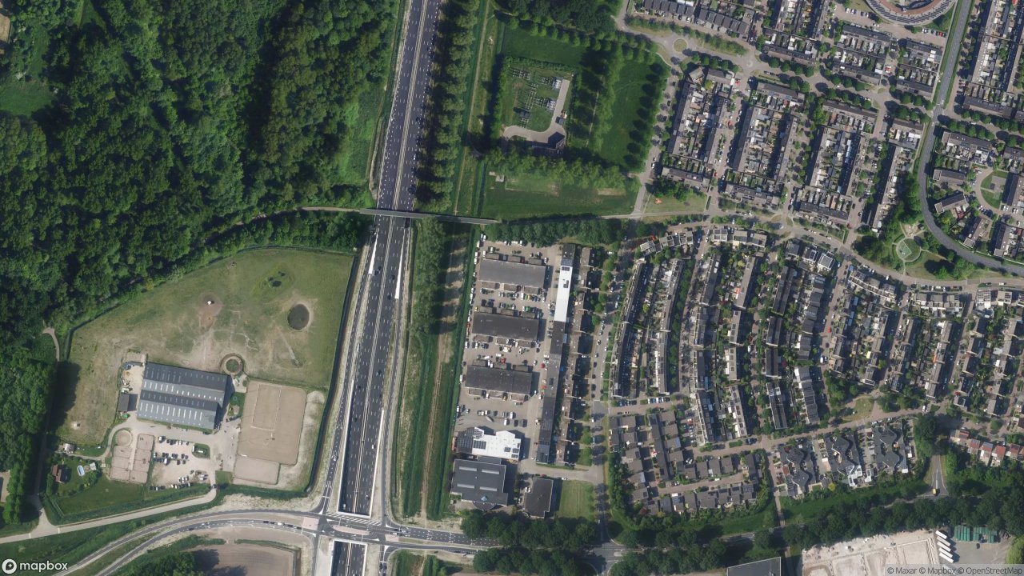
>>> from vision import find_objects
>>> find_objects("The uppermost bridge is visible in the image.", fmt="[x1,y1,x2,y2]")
[352,206,504,223]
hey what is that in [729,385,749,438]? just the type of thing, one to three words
building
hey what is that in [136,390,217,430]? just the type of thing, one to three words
building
